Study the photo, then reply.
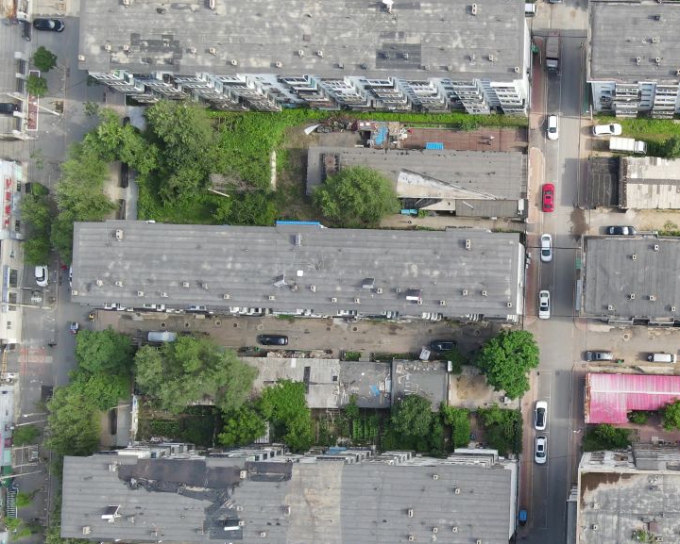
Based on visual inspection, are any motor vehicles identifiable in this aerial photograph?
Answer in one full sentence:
Yes, there is a motor vehicle in the image.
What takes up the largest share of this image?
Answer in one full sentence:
For the most part, this view shows buildings.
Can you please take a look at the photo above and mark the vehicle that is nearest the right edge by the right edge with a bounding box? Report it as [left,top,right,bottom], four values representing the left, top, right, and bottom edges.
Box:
[649,350,676,363]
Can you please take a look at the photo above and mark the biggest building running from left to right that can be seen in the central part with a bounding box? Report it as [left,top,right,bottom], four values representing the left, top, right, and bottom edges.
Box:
[71,217,530,327]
